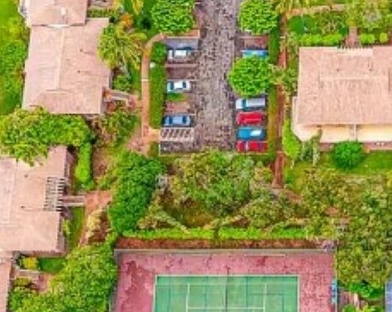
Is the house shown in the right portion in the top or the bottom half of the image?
top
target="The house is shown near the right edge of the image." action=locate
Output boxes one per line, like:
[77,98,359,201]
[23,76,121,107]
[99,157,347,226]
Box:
[290,45,392,152]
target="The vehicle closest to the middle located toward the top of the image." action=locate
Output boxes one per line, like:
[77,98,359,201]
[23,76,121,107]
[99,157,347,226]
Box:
[164,114,193,128]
